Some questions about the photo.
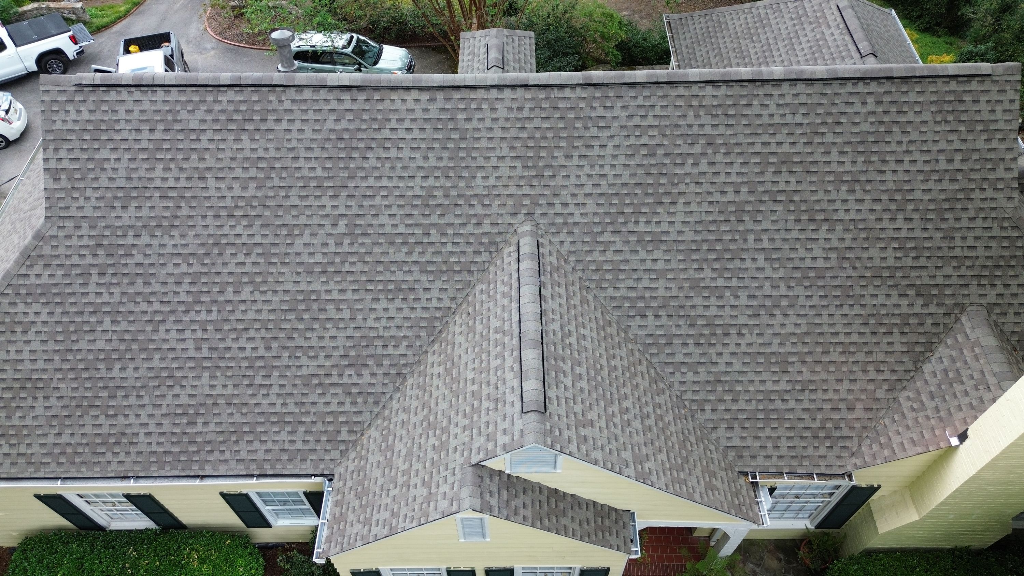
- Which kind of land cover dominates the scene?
buildings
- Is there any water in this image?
No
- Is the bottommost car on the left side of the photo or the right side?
left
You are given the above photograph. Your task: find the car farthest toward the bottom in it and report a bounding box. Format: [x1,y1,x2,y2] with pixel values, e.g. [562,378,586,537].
[0,91,30,152]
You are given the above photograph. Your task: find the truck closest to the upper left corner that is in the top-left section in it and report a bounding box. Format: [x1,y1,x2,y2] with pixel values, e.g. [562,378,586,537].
[0,5,94,88]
